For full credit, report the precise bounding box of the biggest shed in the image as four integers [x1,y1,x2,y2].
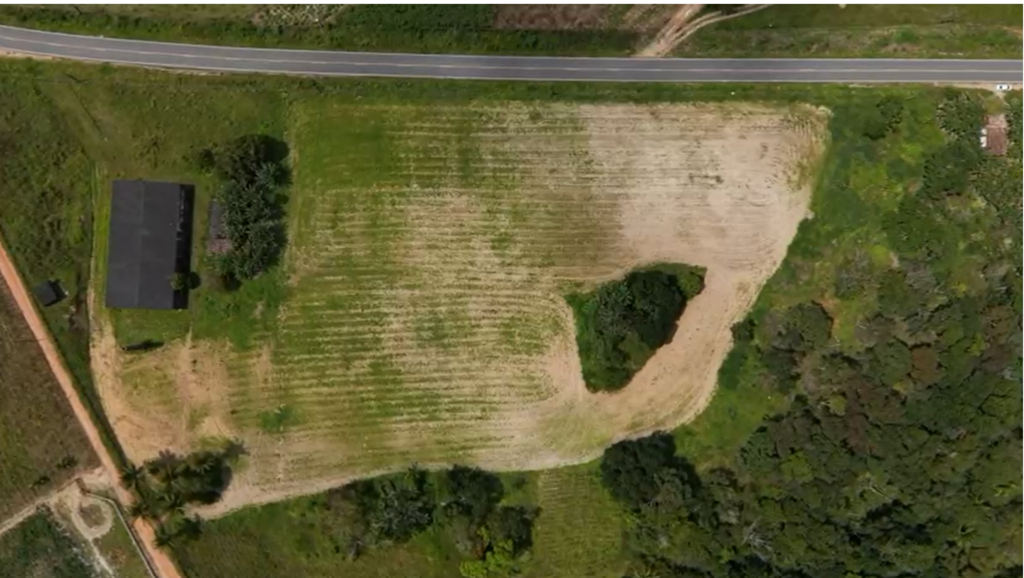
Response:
[106,180,196,310]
